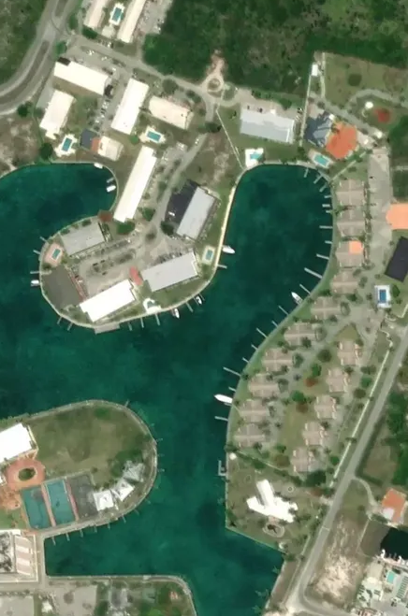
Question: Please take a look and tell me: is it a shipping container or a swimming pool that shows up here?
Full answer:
The image shows a swimming pool.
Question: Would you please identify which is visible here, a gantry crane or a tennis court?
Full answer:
It is a tennis court that can be seen here.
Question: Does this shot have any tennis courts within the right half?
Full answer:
Yes, within the right half there is a tennis court.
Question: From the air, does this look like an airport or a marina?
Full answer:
The area seen from above is a marina.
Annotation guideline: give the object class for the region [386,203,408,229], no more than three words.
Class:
building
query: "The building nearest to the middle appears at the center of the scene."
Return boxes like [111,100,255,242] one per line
[143,251,199,293]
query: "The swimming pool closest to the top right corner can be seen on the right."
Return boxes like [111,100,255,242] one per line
[309,150,336,169]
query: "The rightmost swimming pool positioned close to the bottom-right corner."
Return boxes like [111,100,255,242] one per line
[384,569,399,586]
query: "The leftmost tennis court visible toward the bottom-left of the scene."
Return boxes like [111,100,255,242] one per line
[22,486,50,528]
